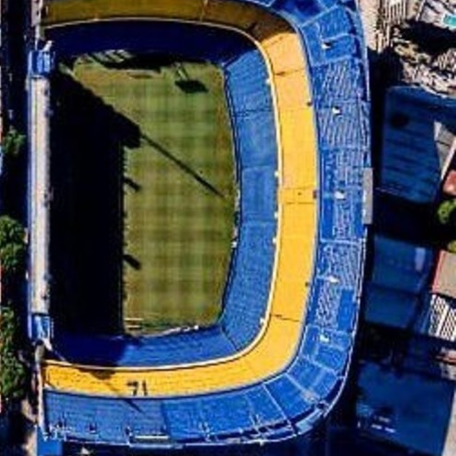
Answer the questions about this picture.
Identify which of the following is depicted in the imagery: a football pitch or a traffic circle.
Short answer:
football pitch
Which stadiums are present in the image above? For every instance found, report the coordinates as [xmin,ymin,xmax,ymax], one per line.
[26,0,372,448]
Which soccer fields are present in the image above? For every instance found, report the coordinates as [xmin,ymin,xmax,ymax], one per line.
[51,51,236,334]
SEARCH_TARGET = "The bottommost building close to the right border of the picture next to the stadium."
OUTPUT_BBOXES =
[351,357,455,456]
